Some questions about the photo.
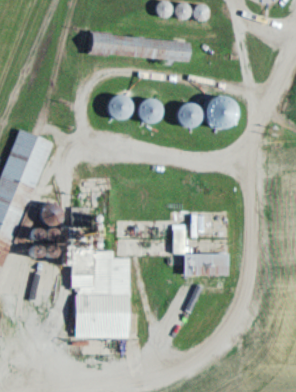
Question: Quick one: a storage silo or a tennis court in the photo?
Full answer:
The image shows a storage silo.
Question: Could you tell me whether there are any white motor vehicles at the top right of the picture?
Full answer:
Yes, looking at the top right of the picture, one can make out a white motor vehicle.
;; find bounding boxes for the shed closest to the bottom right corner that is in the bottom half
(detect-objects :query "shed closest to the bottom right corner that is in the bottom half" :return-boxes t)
[184,253,230,276]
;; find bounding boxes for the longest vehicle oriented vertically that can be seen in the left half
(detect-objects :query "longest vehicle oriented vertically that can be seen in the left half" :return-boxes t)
[30,260,42,299]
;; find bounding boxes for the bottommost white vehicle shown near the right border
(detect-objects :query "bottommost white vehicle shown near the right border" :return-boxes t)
[240,10,284,28]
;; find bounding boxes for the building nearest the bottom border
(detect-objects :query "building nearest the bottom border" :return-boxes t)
[74,294,130,338]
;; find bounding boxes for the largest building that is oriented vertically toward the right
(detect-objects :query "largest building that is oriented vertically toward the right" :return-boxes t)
[172,224,186,254]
